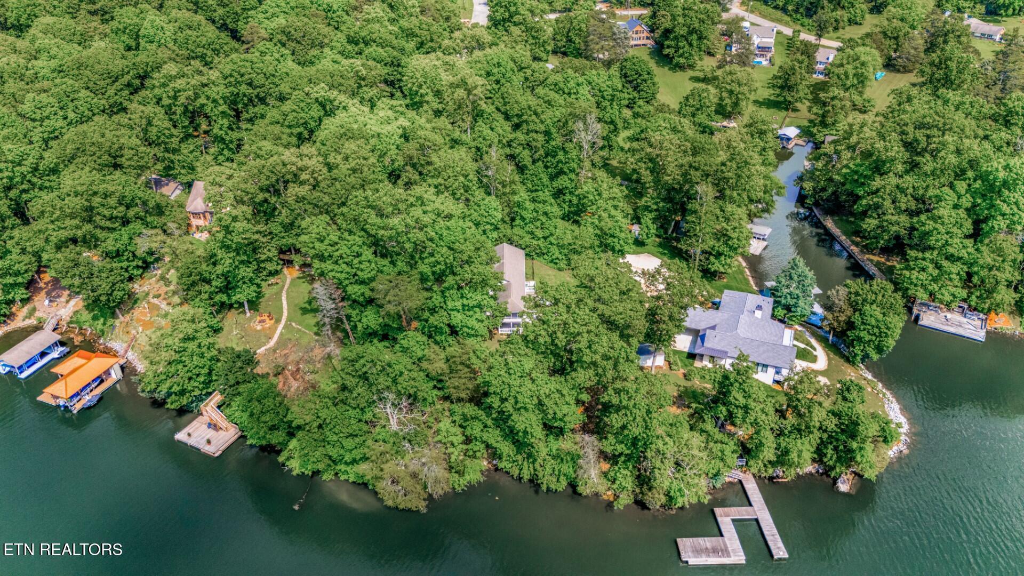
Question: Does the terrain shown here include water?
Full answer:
Yes, water can be seen from above here.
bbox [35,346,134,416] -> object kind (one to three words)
building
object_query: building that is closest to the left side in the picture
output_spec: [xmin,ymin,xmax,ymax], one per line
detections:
[0,330,75,380]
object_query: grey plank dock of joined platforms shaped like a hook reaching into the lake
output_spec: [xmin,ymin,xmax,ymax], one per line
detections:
[677,471,790,567]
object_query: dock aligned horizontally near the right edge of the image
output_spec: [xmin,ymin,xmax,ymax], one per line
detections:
[912,299,988,345]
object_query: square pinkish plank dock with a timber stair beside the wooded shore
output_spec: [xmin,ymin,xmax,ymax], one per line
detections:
[173,415,246,465]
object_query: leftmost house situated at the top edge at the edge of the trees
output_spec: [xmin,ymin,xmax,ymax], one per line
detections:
[620,14,659,47]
